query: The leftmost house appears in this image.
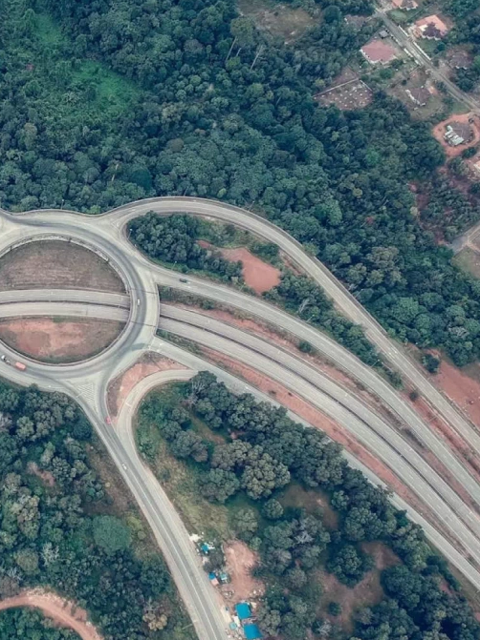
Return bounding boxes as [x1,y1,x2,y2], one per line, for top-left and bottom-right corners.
[341,10,370,30]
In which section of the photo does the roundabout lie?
left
